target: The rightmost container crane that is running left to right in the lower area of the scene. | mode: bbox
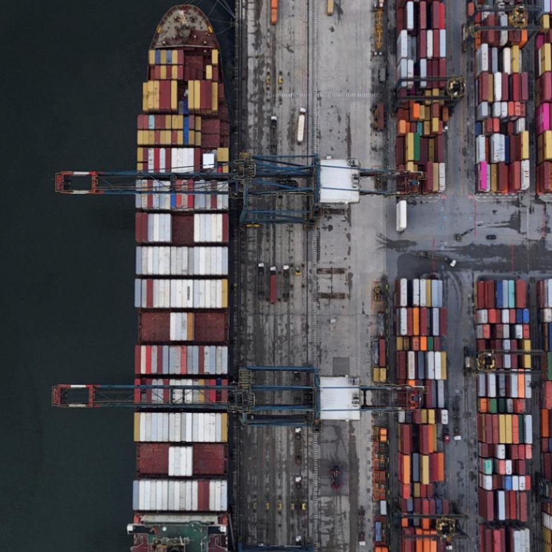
[468,347,545,377]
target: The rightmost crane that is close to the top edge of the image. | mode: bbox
[466,6,541,50]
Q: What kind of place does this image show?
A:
port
